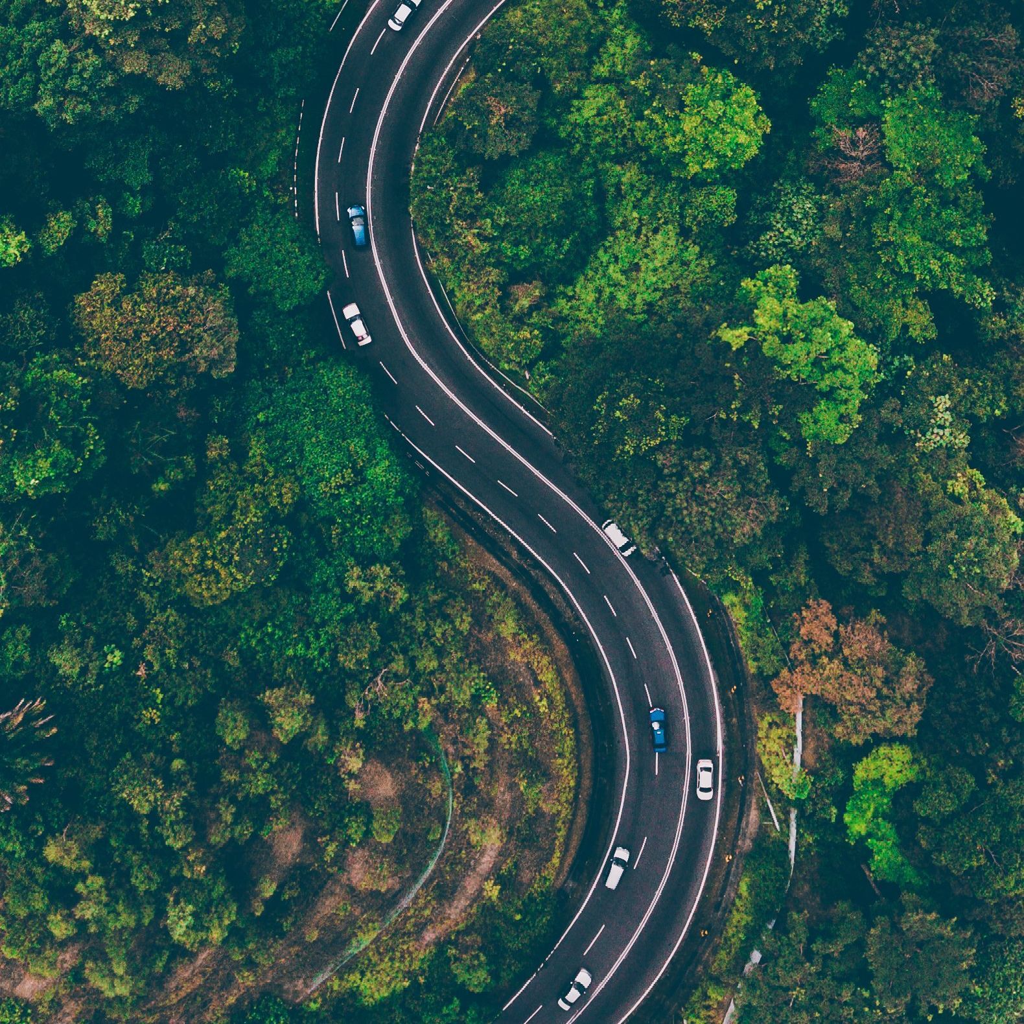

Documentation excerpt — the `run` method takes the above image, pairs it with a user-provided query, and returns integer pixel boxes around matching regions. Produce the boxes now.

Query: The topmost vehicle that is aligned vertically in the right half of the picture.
[648,709,668,752]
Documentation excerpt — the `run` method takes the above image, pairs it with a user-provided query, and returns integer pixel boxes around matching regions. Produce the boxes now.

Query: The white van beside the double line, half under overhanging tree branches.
[602,520,635,557]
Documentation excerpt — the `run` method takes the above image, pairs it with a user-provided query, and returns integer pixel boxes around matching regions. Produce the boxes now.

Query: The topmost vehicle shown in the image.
[384,0,418,35]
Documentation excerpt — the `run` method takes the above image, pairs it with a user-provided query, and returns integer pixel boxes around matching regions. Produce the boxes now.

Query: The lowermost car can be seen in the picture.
[558,969,590,1013]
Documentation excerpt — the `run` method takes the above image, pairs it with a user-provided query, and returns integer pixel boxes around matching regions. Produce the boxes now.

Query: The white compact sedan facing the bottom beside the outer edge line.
[695,759,715,800]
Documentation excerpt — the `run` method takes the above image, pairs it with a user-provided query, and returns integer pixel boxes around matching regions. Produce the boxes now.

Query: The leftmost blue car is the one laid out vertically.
[347,205,368,248]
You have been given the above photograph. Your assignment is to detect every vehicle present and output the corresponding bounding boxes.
[343,303,373,346]
[648,709,668,752]
[604,848,629,891]
[602,520,635,557]
[558,969,590,1013]
[347,205,368,248]
[384,0,418,35]
[695,759,715,800]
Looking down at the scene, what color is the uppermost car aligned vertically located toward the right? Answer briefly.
blue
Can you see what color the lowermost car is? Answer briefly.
white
